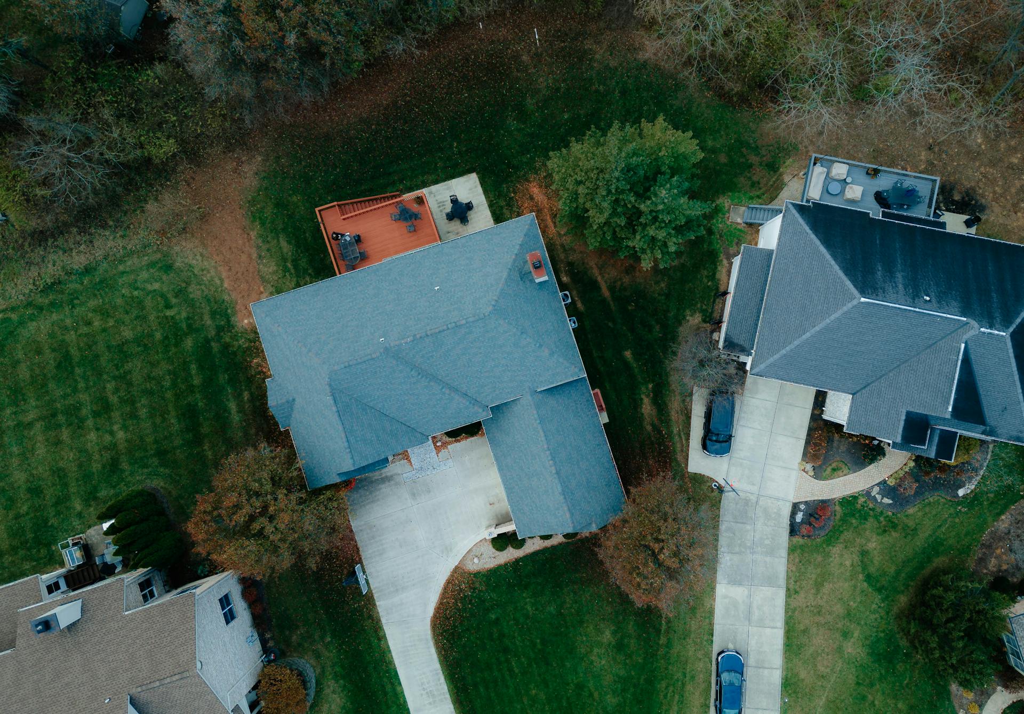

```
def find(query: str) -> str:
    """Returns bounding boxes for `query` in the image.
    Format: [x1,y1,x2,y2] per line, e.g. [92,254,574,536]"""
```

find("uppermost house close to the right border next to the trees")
[711,198,1024,463]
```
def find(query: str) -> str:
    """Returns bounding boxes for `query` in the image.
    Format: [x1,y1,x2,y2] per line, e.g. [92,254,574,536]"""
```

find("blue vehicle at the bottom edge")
[711,653,746,714]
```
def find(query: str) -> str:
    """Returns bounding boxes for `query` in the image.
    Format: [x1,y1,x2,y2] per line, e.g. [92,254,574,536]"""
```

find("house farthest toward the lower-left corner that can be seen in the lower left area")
[0,565,272,714]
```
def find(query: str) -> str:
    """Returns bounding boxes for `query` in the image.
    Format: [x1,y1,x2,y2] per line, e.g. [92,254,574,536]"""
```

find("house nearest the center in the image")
[248,211,629,540]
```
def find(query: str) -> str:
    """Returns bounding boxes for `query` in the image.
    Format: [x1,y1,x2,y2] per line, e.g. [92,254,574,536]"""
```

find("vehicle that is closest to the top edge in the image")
[699,387,737,462]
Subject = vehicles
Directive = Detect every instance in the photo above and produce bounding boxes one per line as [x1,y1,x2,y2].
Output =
[711,653,746,714]
[699,387,737,462]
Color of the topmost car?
blue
